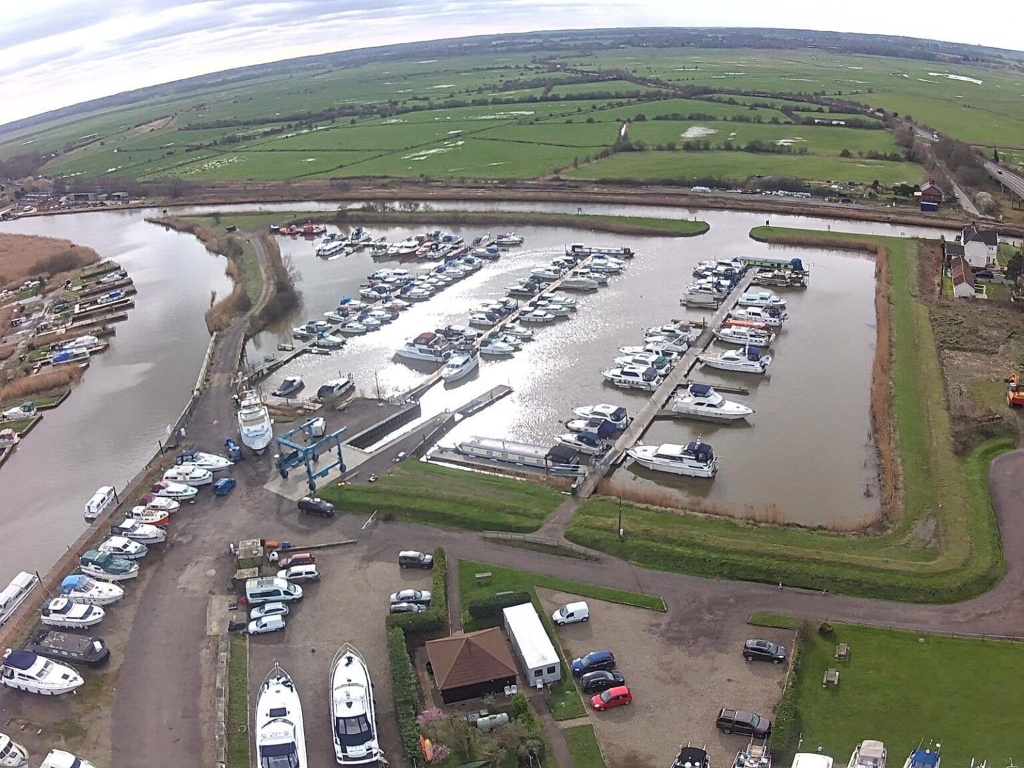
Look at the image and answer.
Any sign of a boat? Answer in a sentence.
Yes, looking at the shot, I can spot a boat.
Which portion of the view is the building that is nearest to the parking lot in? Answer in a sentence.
The building that is nearest to the parking lot is located in the bottom region of the scene.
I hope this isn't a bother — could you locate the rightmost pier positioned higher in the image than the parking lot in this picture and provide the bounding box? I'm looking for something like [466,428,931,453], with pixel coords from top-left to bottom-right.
[614,269,759,451]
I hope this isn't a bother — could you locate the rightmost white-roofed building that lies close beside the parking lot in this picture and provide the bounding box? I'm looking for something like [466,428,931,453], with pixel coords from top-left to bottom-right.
[502,602,561,688]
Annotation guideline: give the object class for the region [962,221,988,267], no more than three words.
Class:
house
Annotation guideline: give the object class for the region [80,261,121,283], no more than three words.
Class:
pier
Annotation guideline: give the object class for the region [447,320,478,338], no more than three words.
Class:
boat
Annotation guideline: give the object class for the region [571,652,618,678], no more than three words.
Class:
car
